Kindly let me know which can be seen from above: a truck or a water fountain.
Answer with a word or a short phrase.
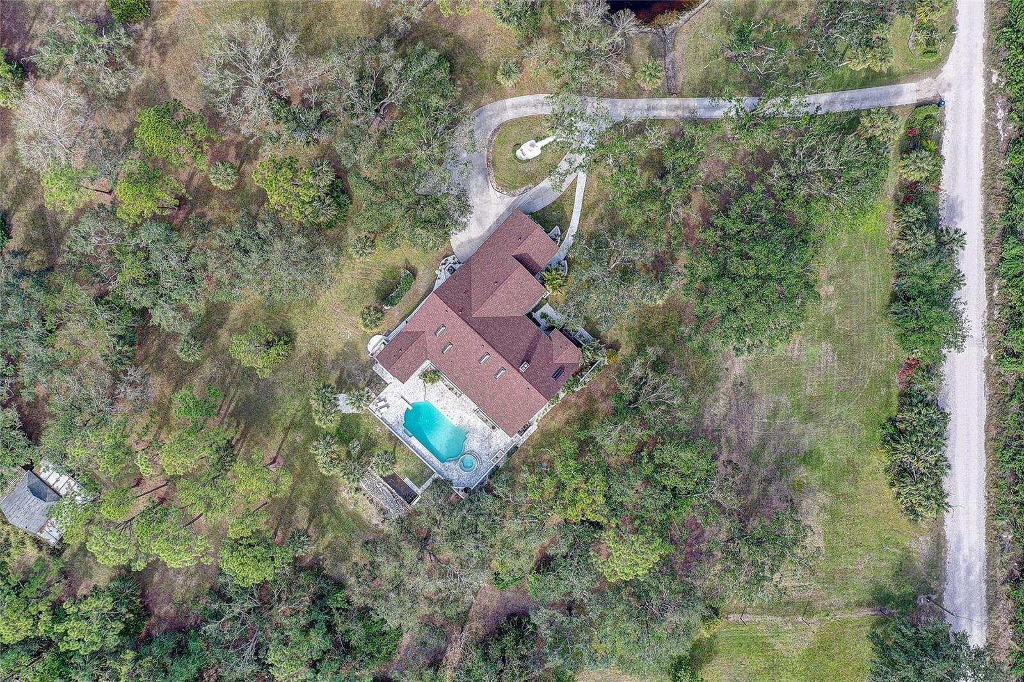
water fountain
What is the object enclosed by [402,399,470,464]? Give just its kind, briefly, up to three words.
swimming pool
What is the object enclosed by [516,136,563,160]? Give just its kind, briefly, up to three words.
fountain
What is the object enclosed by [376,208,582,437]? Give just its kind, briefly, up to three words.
house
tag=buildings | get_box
[376,208,582,437]
[0,471,66,534]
